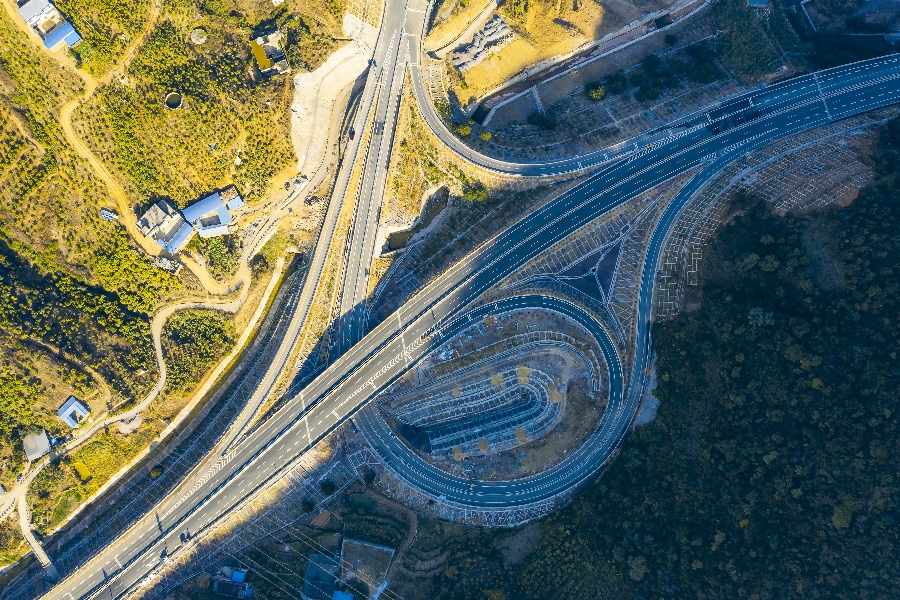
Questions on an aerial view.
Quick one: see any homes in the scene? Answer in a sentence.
Yes, a home appears in the view.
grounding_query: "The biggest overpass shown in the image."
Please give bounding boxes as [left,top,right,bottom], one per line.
[296,318,442,436]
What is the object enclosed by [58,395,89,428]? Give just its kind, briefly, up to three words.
house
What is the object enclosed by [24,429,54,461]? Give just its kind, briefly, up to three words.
house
